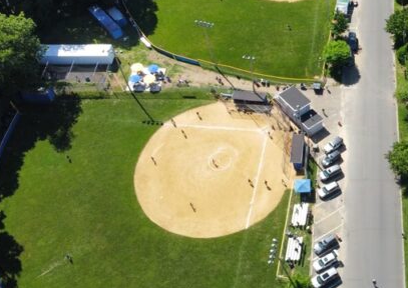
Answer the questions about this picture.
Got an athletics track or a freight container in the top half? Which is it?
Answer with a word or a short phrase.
freight container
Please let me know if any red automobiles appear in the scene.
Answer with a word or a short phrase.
No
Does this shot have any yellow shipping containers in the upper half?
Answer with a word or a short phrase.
No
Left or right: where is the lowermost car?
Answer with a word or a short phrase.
right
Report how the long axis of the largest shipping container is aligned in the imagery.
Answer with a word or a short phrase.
on a diagonal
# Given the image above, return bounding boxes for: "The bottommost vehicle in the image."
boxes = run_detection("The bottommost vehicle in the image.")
[311,268,338,288]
